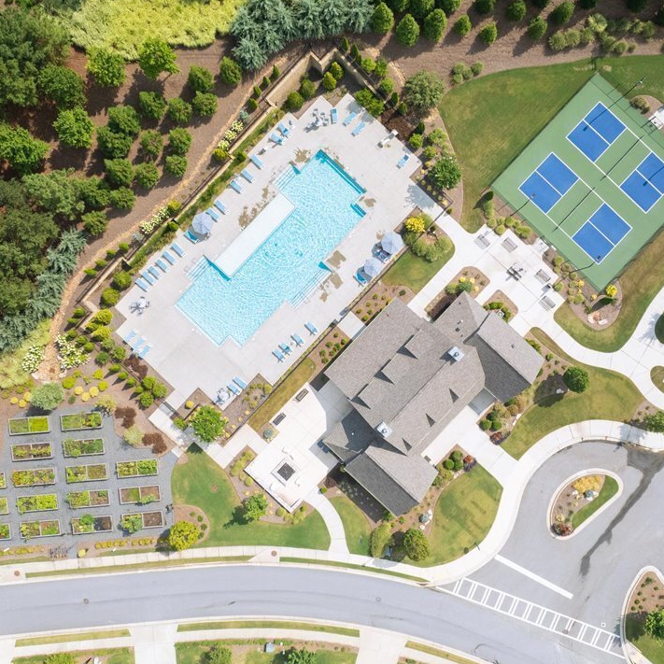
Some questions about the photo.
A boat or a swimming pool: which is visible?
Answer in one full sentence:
Looking from above, you can make out a swimming pool.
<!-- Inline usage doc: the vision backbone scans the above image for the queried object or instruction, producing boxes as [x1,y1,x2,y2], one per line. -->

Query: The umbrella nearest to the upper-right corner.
[381,231,403,253]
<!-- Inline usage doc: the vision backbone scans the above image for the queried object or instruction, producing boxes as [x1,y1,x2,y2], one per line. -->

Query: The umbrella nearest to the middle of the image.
[363,254,386,277]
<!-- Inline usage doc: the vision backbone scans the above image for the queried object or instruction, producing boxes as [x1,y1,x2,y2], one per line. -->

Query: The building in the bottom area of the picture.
[322,291,545,516]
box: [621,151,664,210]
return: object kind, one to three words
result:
sports court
